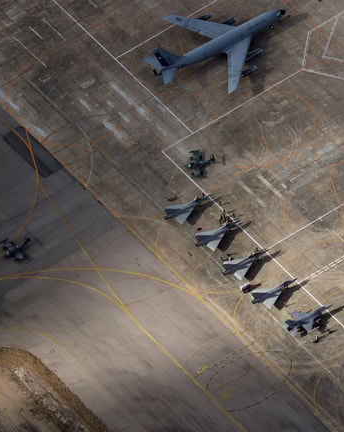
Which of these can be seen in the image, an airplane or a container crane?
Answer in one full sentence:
The image shows an airplane.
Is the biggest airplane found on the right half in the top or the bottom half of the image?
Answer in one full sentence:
The biggest airplane found on the right half sits in the top half of the picture.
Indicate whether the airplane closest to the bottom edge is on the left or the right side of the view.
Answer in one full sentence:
It is on the right.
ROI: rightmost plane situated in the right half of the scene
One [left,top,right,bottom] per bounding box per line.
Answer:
[283,305,331,335]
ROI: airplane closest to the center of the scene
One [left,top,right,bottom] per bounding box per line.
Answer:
[164,195,212,226]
